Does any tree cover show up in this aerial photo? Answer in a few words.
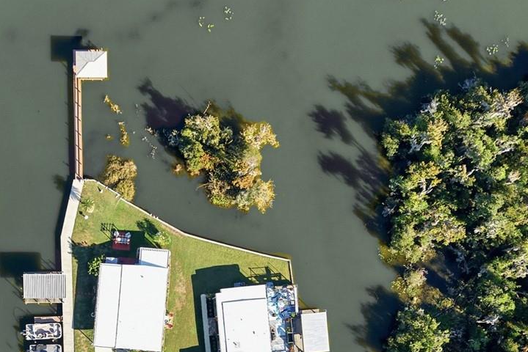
Yes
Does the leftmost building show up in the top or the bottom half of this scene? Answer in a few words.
bottom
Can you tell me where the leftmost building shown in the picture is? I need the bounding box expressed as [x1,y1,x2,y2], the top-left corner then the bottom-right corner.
[23,274,65,304]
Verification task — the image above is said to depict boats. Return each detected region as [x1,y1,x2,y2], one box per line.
[22,323,63,339]
[29,345,63,352]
